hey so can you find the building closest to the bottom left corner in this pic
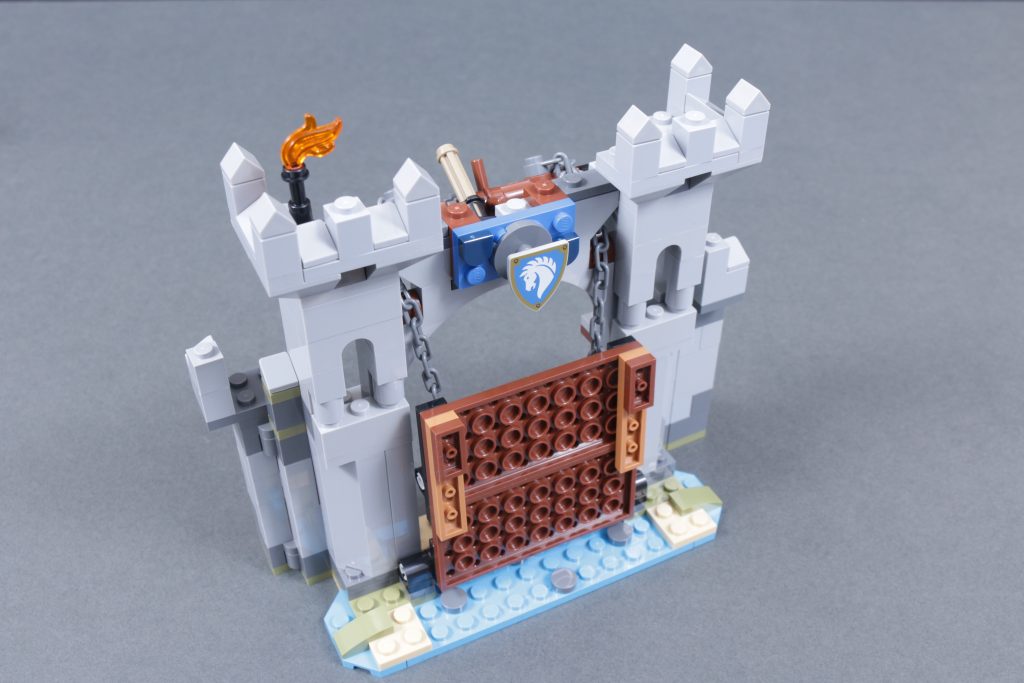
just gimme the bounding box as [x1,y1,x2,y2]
[221,144,444,600]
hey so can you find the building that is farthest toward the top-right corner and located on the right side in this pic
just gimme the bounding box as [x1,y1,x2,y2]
[593,44,770,488]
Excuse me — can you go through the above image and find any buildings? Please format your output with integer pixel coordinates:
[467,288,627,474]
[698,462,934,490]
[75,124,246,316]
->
[221,144,444,600]
[593,44,770,488]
